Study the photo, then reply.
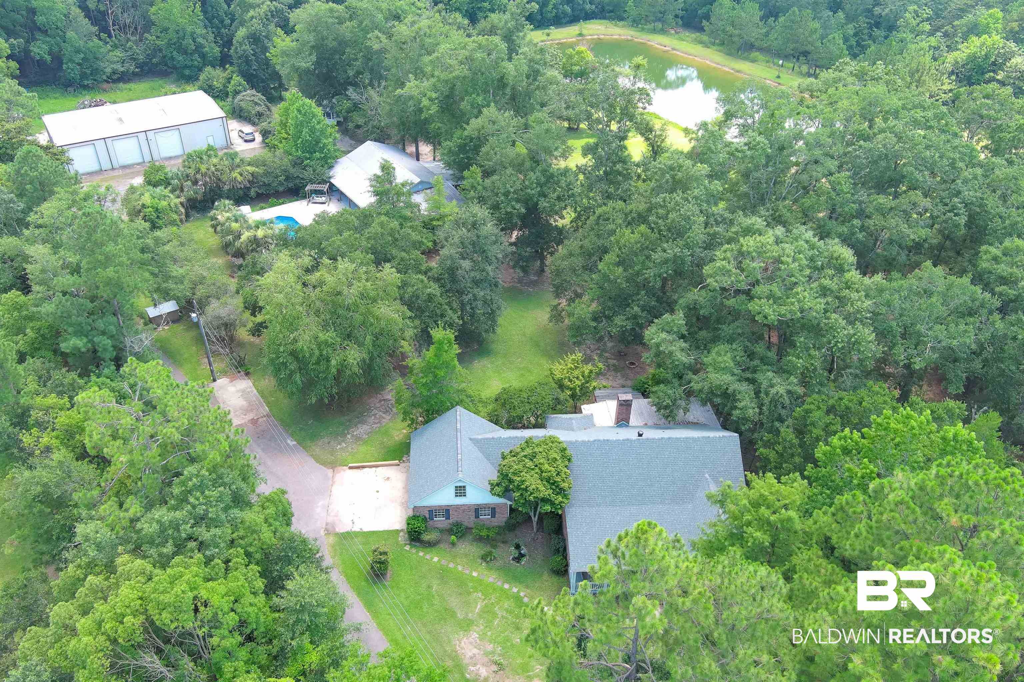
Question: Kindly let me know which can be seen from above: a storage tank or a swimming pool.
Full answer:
Of the two, only a swimming pool appears.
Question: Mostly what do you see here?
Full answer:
The bulk of the photo consists of trees.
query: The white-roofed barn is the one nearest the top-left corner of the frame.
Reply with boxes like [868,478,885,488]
[41,88,231,178]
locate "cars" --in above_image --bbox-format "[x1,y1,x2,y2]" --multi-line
[237,128,253,143]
